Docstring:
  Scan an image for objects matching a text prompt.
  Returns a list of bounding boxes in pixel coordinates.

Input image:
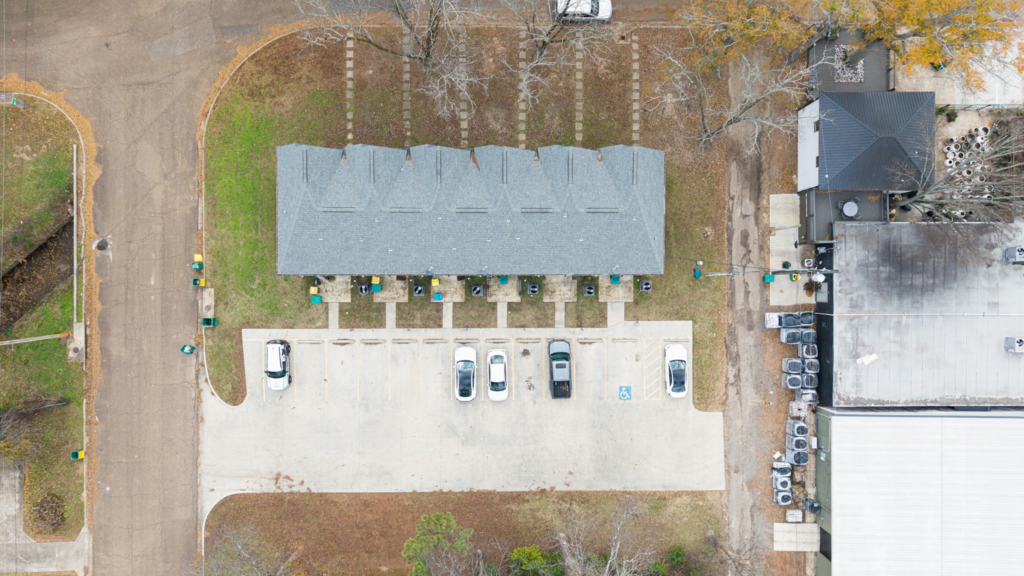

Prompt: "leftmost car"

[264,342,291,388]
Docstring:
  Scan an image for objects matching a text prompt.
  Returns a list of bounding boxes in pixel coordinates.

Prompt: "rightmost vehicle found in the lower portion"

[664,345,690,396]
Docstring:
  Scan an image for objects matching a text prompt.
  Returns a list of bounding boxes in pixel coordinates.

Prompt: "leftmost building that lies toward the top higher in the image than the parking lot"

[275,144,666,276]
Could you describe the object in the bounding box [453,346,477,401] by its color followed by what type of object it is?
white car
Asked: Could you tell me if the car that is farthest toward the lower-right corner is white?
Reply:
Yes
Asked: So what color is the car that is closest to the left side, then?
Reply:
white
